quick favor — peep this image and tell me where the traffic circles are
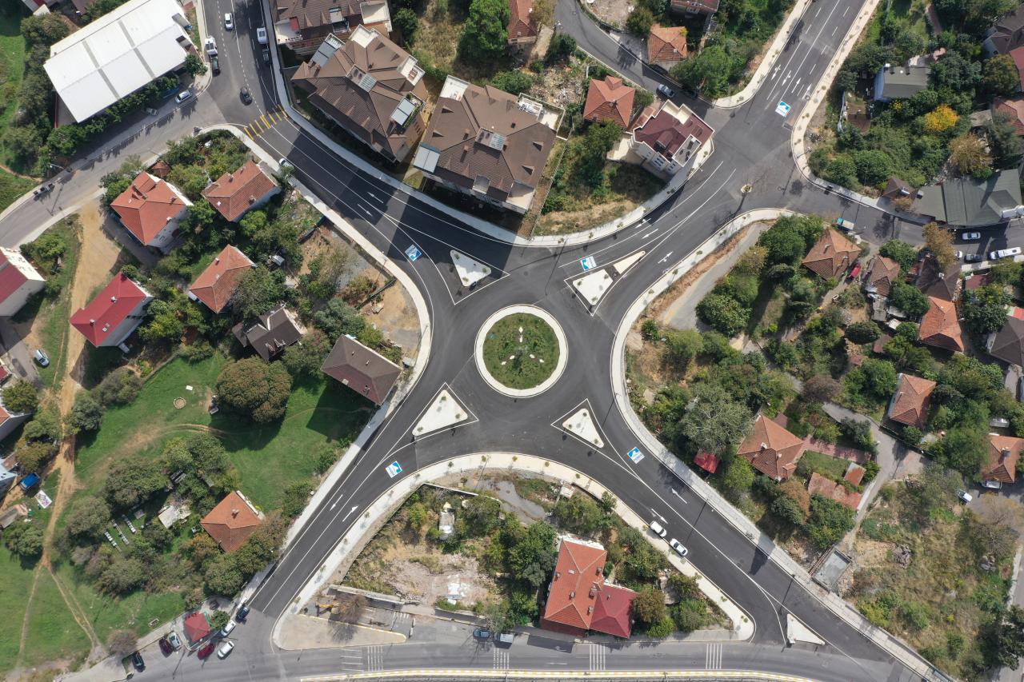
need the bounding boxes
[473,304,569,399]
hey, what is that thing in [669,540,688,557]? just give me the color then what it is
white car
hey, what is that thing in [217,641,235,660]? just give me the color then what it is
white vehicle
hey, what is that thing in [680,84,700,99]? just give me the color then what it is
black car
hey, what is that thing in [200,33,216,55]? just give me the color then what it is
white vehicle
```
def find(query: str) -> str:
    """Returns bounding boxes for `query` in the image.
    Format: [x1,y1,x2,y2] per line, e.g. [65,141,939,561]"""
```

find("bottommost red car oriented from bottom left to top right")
[195,643,214,659]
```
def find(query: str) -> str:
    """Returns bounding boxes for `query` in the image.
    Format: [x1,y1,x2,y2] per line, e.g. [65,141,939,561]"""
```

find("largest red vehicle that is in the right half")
[848,262,863,280]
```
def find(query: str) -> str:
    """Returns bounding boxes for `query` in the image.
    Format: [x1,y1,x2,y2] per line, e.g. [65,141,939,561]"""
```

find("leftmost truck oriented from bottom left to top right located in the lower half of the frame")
[12,473,40,494]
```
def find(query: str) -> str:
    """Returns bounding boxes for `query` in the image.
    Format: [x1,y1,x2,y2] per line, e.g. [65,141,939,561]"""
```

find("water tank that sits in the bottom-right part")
[817,550,854,591]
